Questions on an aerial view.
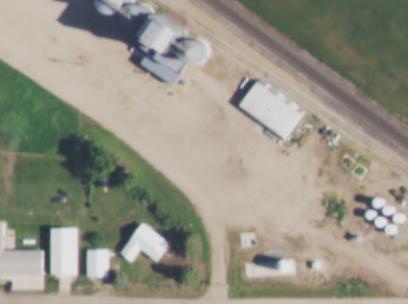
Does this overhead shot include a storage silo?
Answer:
Yes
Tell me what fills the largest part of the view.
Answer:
paved ground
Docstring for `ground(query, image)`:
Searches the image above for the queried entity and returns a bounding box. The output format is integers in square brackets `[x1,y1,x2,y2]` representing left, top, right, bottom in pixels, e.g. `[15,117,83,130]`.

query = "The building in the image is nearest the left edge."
[0,224,44,277]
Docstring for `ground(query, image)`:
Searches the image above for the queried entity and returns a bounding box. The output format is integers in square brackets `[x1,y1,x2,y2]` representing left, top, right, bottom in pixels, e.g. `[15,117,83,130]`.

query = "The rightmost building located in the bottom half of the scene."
[120,224,170,262]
